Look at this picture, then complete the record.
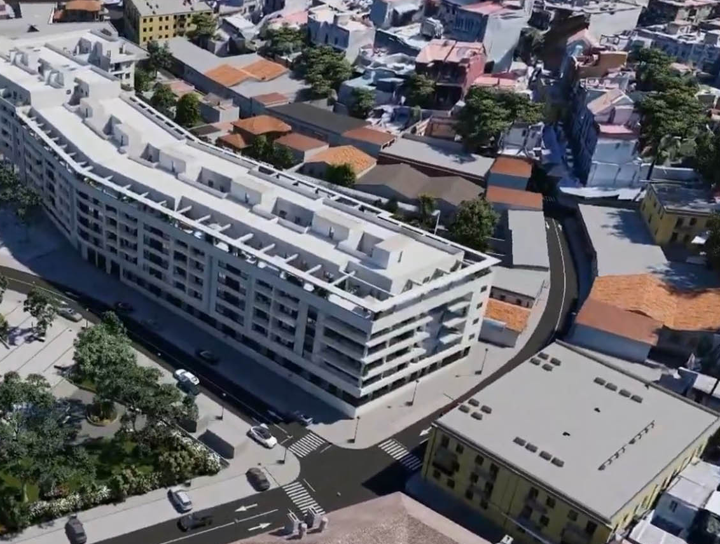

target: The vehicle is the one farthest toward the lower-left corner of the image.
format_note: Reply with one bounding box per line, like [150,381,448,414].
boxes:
[63,514,87,544]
